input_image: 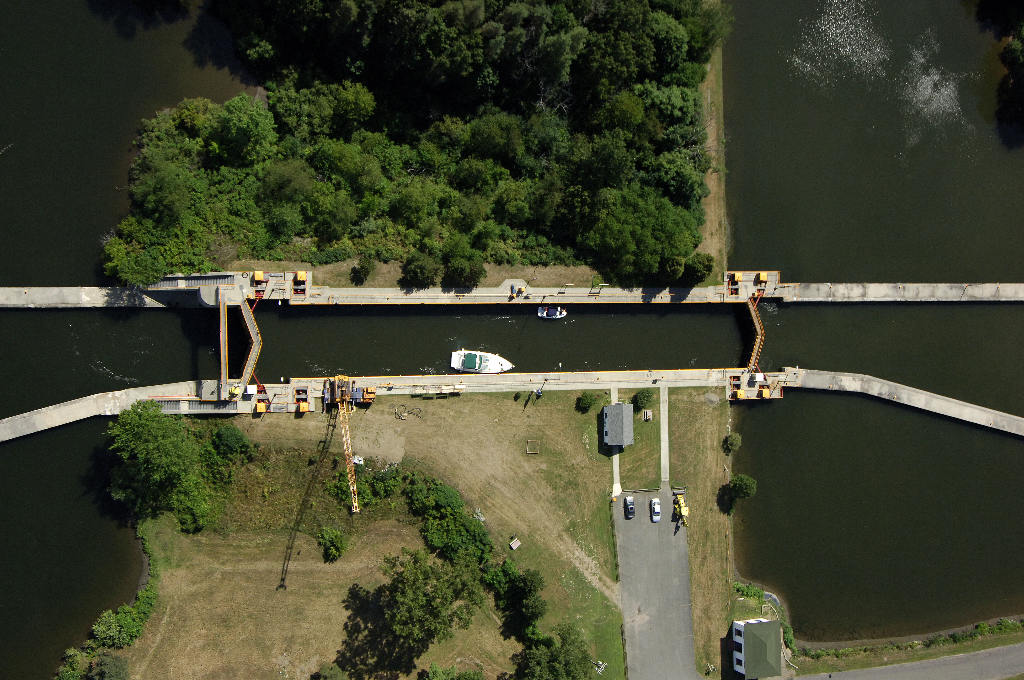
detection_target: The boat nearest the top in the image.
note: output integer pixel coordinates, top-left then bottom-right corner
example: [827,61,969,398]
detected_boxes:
[536,307,566,319]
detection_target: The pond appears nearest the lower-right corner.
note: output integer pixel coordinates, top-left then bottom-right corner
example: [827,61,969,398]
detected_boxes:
[731,388,1024,642]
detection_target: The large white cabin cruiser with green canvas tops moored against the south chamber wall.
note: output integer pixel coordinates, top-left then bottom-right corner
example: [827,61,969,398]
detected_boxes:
[449,349,512,374]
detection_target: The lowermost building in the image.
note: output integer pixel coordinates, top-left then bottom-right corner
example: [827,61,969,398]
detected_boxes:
[733,615,781,680]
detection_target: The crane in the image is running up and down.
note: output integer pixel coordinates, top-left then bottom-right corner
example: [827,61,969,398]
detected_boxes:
[322,375,375,514]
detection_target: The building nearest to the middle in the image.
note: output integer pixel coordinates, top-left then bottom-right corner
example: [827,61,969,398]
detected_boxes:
[604,401,636,448]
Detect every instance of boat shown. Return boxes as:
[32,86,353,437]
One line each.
[536,307,566,319]
[449,349,512,374]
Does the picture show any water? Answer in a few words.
Yes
